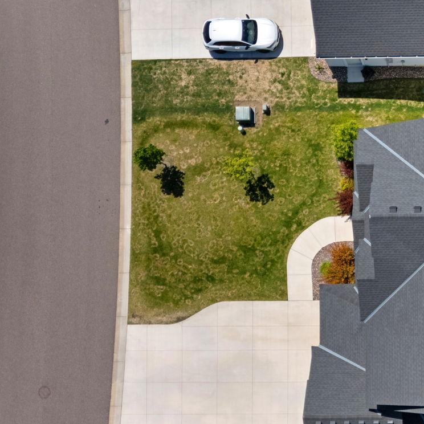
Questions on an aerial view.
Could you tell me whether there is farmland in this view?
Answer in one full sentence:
No, the picture contains no farmland.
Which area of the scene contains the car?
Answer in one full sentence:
The car appears toward the top of the photo.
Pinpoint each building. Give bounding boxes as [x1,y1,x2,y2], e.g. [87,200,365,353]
[303,116,424,424]
[310,0,424,82]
